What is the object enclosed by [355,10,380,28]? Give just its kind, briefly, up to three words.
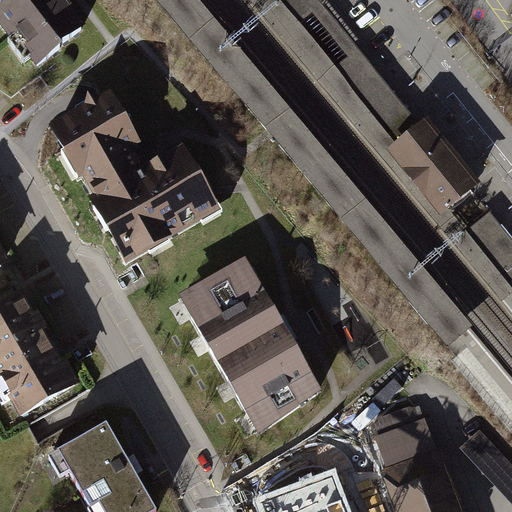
car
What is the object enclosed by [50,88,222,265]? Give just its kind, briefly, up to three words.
house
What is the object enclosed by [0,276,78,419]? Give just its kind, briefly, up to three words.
house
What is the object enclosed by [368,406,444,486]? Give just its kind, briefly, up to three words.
building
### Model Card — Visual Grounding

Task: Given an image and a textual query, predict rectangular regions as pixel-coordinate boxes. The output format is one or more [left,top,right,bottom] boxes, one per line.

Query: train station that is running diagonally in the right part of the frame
[156,0,512,430]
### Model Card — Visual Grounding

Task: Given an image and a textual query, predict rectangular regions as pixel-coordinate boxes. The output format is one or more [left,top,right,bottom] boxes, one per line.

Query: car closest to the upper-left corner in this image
[1,106,22,123]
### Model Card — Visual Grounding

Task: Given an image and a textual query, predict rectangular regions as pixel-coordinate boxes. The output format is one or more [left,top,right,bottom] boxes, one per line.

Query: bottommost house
[388,476,452,512]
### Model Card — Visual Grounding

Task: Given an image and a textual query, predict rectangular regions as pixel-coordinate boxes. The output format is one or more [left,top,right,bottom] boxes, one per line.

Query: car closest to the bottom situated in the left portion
[198,452,212,470]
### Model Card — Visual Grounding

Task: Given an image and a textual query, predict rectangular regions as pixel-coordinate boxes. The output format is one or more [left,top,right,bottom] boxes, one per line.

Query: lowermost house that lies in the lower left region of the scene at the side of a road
[48,420,156,512]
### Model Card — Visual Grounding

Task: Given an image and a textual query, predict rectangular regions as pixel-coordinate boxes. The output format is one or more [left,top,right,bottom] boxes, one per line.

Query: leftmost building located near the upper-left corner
[0,0,82,70]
